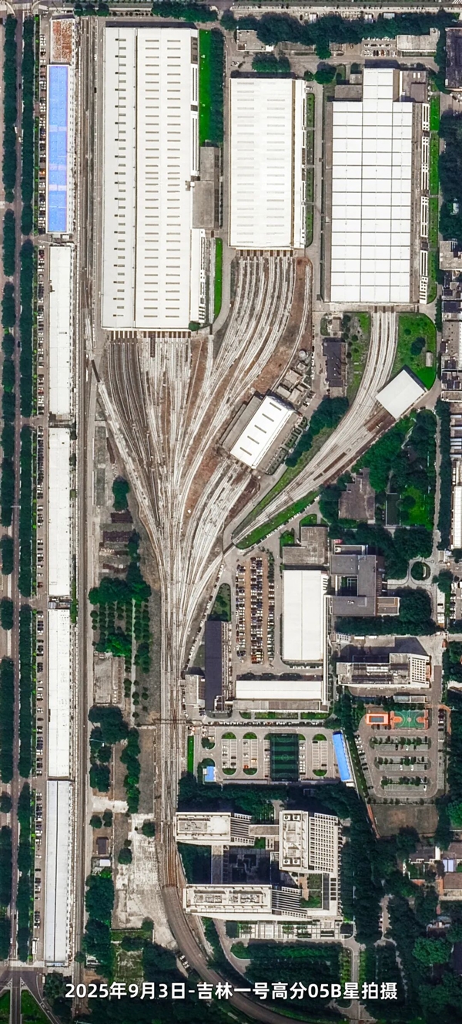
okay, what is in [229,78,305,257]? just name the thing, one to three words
shed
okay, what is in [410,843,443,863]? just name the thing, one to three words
house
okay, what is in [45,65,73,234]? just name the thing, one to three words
shed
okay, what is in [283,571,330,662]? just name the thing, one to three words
building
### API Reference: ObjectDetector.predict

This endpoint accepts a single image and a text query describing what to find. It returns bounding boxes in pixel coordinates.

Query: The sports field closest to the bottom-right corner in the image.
[373,804,438,835]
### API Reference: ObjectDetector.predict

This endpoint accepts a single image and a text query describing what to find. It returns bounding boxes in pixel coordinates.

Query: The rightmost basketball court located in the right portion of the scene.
[391,710,429,729]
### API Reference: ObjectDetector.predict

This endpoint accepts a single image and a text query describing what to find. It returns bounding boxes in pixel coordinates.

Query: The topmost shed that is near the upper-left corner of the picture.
[50,19,76,64]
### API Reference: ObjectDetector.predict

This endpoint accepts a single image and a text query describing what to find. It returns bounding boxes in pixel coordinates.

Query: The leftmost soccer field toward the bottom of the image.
[268,733,299,780]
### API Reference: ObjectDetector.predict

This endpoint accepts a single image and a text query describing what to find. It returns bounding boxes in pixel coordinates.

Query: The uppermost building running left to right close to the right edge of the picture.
[397,28,443,51]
